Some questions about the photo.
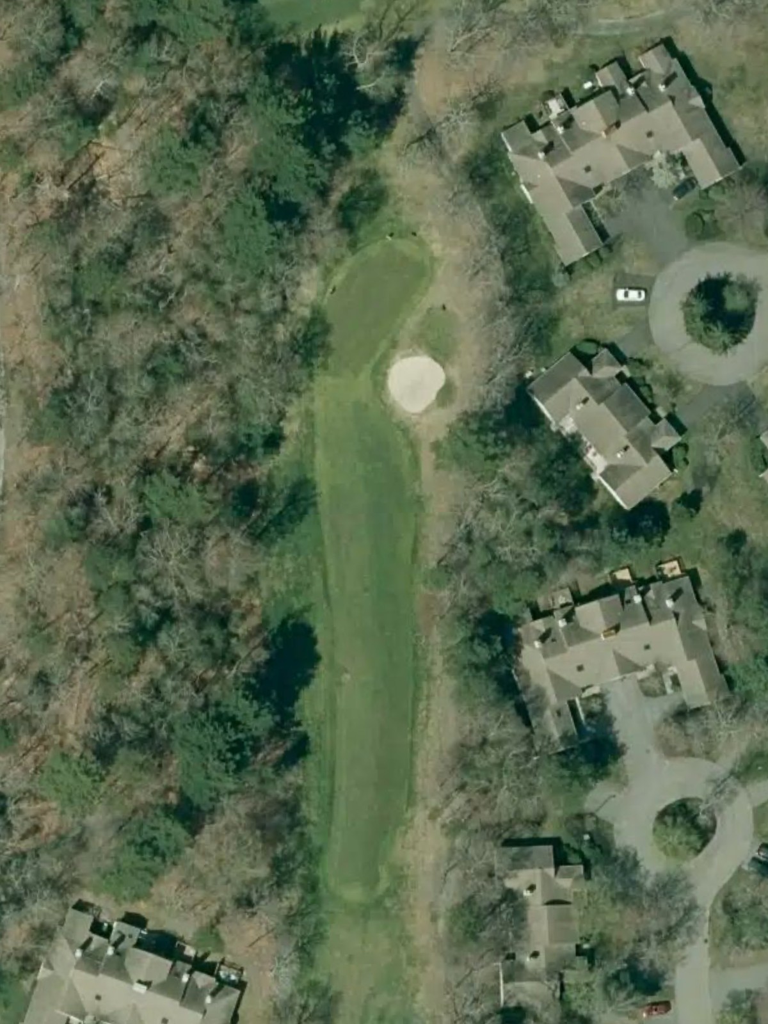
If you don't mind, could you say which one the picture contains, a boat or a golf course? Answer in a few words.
golf course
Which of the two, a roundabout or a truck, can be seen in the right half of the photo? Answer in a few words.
roundabout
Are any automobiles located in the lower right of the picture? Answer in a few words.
Yes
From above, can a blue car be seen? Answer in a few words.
No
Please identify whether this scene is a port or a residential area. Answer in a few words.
residential area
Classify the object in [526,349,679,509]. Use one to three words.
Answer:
house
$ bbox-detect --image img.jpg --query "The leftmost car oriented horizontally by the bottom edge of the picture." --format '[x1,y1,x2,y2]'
[642,1001,673,1017]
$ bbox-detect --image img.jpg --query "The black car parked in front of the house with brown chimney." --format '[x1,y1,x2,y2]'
[670,176,697,199]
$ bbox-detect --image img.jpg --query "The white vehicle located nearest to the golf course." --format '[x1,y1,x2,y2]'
[617,287,645,301]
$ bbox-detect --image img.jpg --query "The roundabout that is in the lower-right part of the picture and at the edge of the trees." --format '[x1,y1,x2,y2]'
[585,758,753,912]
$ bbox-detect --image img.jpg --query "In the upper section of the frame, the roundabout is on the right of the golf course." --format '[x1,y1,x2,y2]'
[649,243,768,386]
